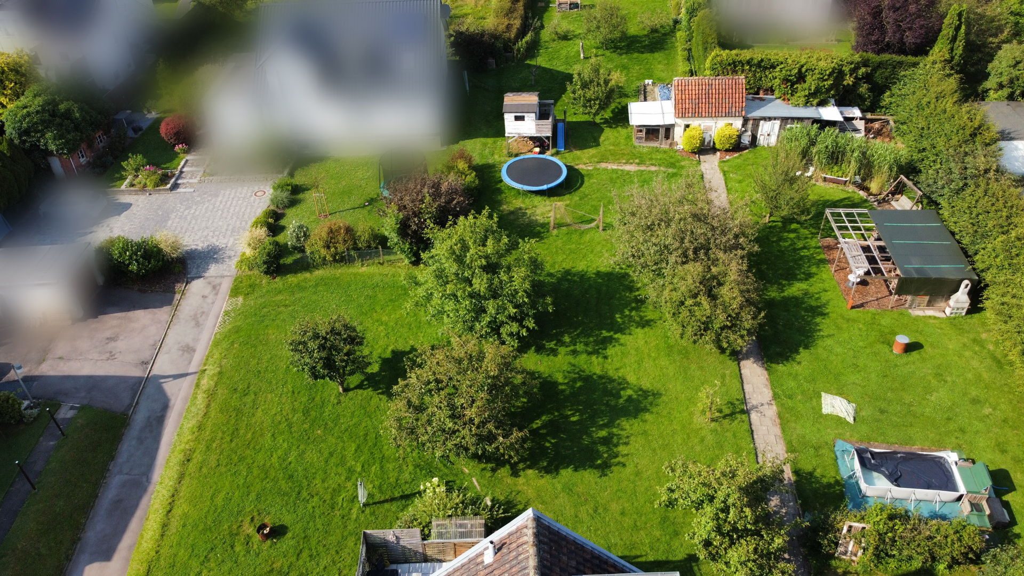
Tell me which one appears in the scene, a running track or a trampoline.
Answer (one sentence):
Of the two, only a trampoline appears.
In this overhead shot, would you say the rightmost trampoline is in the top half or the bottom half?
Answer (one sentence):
The rightmost trampoline is in the top half of the image.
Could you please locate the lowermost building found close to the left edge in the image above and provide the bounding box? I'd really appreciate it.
[0,243,117,326]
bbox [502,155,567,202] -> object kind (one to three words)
trampoline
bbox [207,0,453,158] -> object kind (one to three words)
house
